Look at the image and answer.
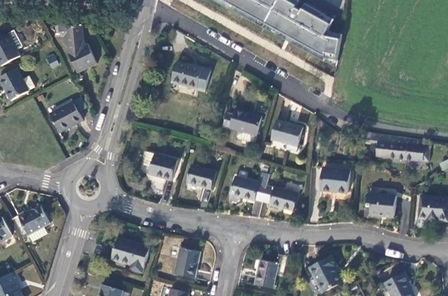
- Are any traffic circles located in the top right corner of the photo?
No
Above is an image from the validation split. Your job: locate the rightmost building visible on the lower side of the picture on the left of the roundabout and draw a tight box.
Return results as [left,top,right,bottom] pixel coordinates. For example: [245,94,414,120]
[19,202,52,241]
